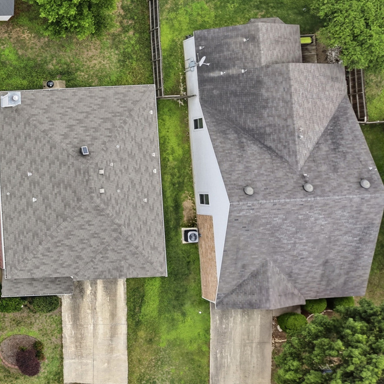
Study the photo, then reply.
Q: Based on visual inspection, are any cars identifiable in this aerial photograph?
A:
No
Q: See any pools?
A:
No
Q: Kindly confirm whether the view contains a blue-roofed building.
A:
No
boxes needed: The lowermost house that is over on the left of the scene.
[0,84,167,298]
